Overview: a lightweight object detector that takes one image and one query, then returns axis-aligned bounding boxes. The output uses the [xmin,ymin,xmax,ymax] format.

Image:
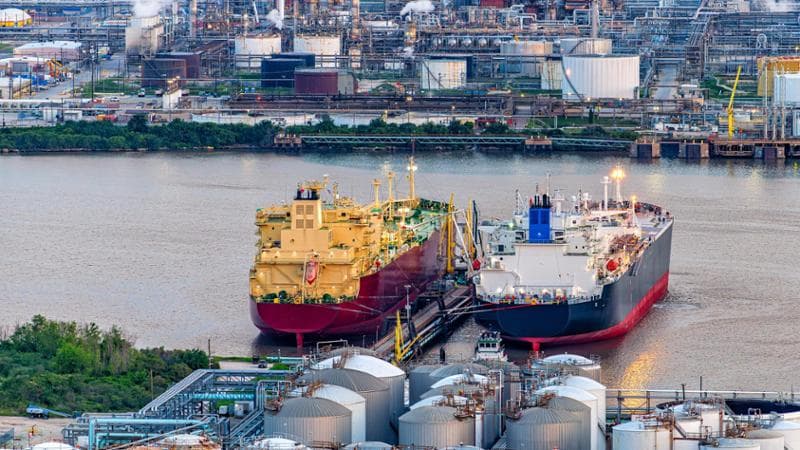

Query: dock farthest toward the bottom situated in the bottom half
[354,277,481,366]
